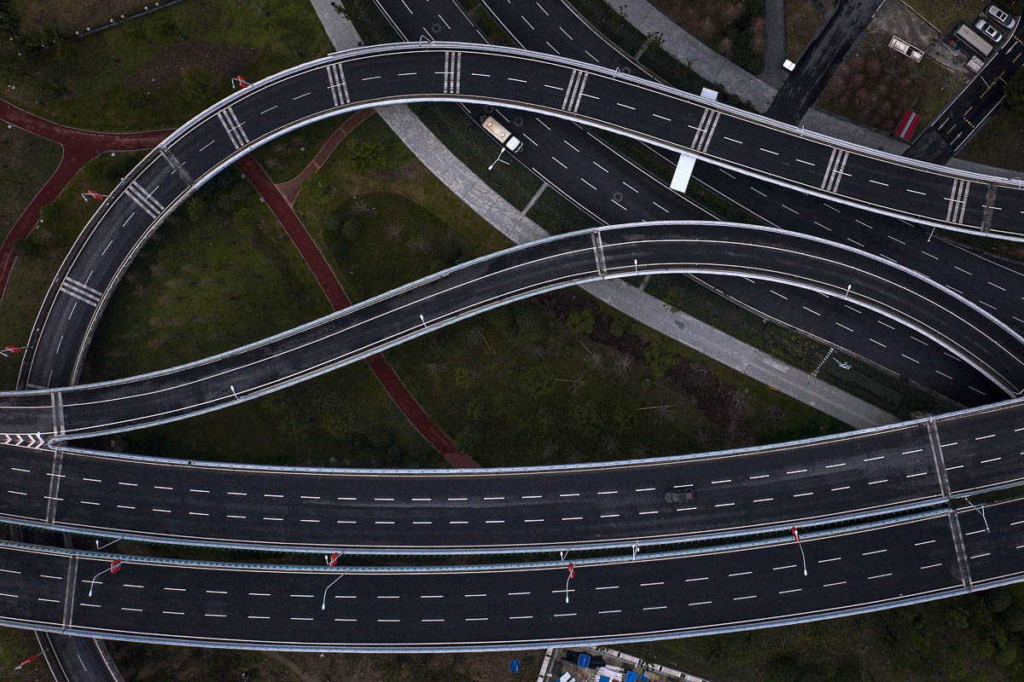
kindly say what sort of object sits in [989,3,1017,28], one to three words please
car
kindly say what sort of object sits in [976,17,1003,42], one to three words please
car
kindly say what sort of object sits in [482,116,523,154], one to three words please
truck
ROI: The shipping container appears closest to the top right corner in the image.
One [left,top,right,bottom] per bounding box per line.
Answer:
[954,24,993,57]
